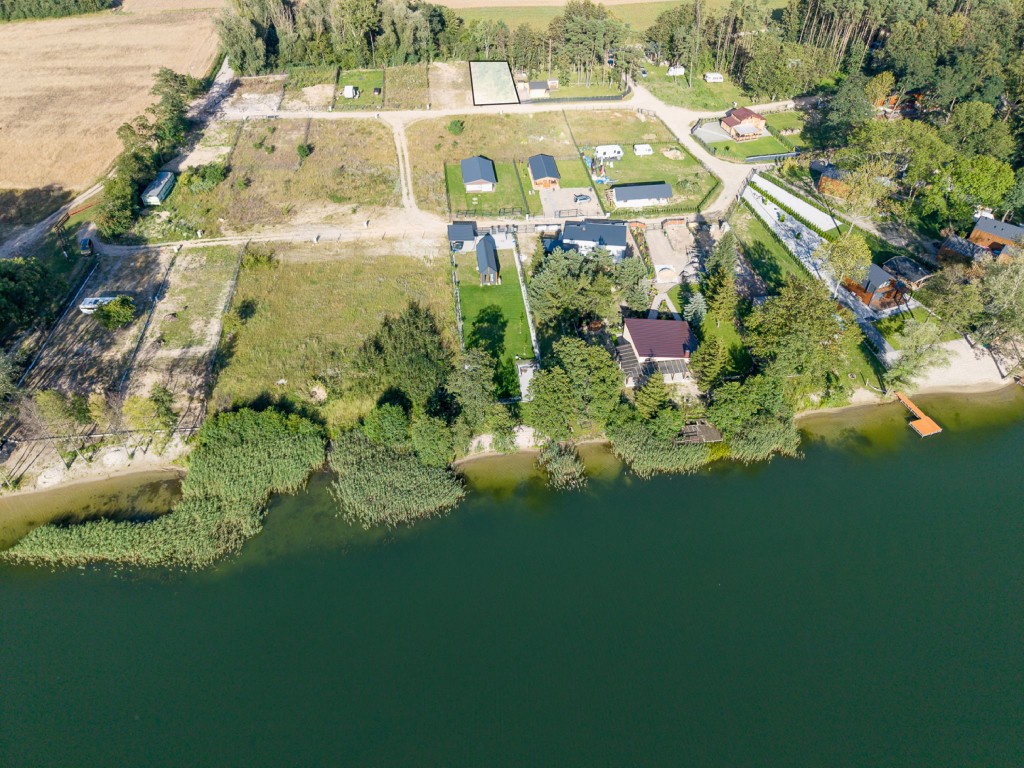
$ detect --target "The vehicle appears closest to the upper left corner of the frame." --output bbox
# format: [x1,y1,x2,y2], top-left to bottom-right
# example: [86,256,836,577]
[77,239,94,253]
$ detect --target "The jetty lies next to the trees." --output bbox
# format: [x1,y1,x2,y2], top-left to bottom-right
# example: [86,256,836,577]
[893,391,943,440]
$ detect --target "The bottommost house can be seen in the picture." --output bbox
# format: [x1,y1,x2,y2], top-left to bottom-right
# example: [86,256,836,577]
[623,318,690,370]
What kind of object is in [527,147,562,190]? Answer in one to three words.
building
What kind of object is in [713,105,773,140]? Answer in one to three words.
house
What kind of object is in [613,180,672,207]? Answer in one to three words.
shed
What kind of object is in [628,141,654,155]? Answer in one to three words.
camper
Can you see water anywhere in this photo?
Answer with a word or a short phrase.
Yes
